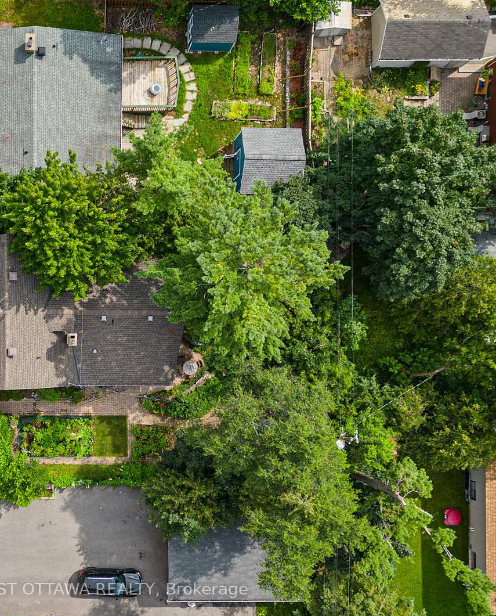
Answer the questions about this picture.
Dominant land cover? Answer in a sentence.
What you mostly see from above here is trees.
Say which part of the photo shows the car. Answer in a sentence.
The car sits in the bottom left section of the image.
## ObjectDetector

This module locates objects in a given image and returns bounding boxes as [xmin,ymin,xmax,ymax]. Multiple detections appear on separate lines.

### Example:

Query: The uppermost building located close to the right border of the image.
[372,0,495,67]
